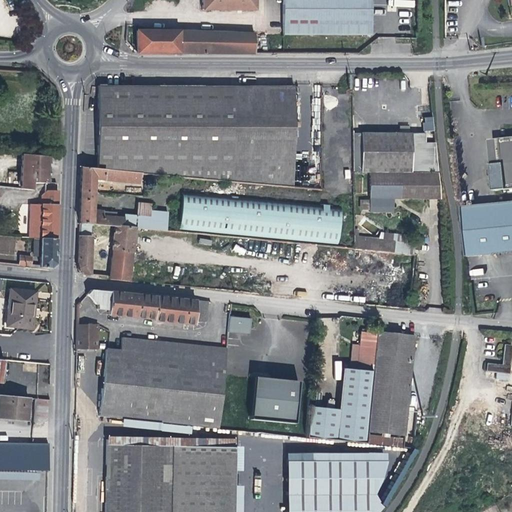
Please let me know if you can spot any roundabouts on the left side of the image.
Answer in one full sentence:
Yes, there is a roundabout on the left side of the image.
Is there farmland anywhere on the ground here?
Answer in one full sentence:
No, there's no farmland in this view.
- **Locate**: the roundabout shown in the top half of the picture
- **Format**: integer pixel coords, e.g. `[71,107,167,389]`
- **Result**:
[42,22,96,76]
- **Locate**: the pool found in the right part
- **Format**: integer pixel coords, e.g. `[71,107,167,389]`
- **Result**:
[358,217,384,233]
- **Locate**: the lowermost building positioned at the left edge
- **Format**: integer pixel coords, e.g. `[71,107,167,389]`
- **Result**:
[0,441,50,480]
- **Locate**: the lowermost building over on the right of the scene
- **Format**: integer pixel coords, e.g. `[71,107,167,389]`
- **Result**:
[288,452,388,512]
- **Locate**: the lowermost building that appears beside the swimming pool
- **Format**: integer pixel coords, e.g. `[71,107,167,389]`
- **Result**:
[355,232,412,255]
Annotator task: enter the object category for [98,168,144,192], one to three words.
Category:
house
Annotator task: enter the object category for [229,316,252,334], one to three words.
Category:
building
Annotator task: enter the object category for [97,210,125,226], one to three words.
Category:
shed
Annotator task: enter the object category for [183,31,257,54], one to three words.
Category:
house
